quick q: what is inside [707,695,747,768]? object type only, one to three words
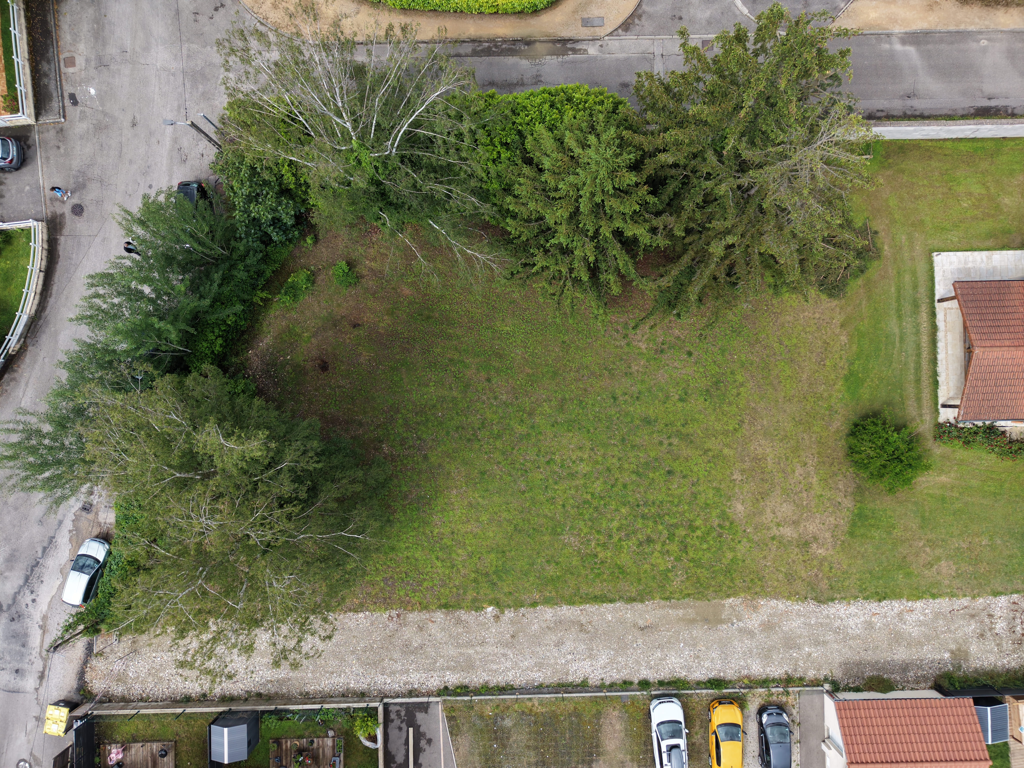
car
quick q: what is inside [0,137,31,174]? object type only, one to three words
car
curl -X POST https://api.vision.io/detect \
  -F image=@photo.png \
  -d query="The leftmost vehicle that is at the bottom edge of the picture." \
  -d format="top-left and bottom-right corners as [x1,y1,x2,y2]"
[648,695,689,768]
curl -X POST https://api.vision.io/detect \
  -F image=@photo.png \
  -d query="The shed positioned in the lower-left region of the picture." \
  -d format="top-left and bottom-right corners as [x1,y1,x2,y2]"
[211,710,259,762]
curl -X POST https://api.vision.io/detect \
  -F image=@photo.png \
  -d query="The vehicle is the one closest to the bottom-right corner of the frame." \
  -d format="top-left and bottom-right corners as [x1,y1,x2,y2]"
[755,702,795,768]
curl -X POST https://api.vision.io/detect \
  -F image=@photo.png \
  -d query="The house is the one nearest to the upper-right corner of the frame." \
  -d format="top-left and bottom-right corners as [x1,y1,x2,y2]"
[939,278,1024,422]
